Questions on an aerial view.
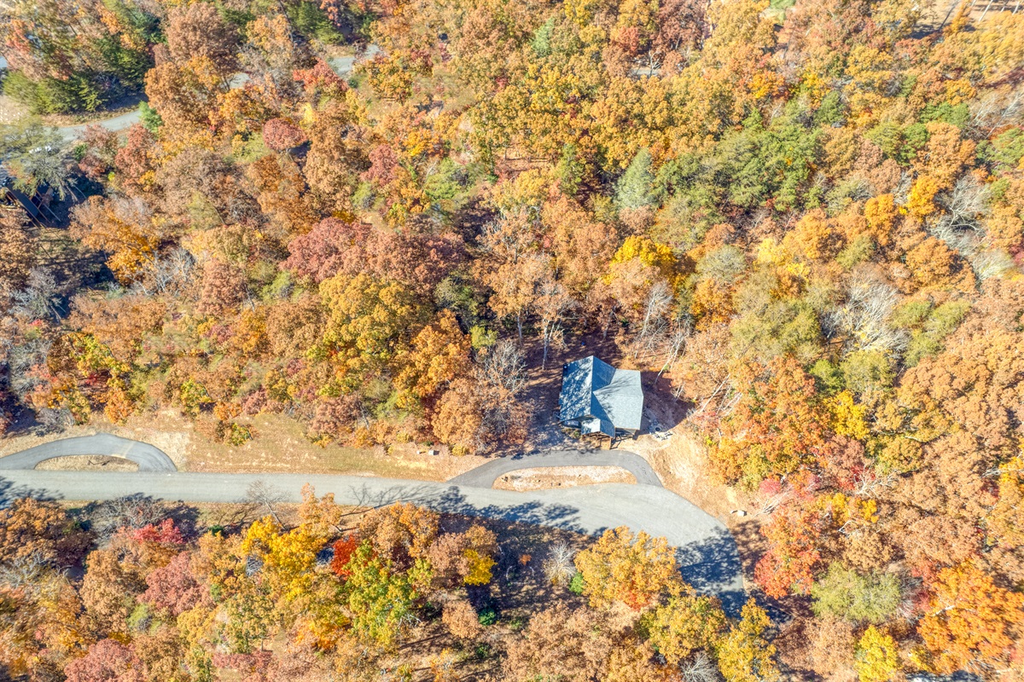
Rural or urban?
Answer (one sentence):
It looks rural.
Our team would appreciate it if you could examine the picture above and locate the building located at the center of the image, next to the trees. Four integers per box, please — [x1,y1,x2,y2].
[558,354,645,454]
